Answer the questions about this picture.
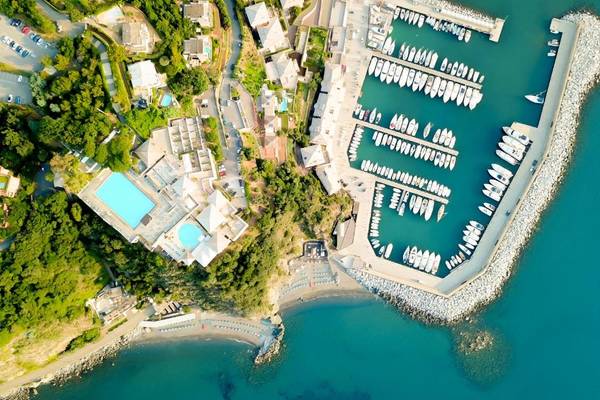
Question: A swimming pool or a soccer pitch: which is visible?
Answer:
swimming pool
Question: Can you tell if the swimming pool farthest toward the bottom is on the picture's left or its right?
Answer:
left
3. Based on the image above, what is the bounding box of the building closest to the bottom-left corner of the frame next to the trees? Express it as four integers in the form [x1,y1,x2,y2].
[87,285,135,322]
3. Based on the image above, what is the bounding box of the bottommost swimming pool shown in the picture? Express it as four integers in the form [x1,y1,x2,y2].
[177,221,203,249]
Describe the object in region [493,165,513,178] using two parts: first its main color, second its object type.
white boat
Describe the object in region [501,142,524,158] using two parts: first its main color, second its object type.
white boat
